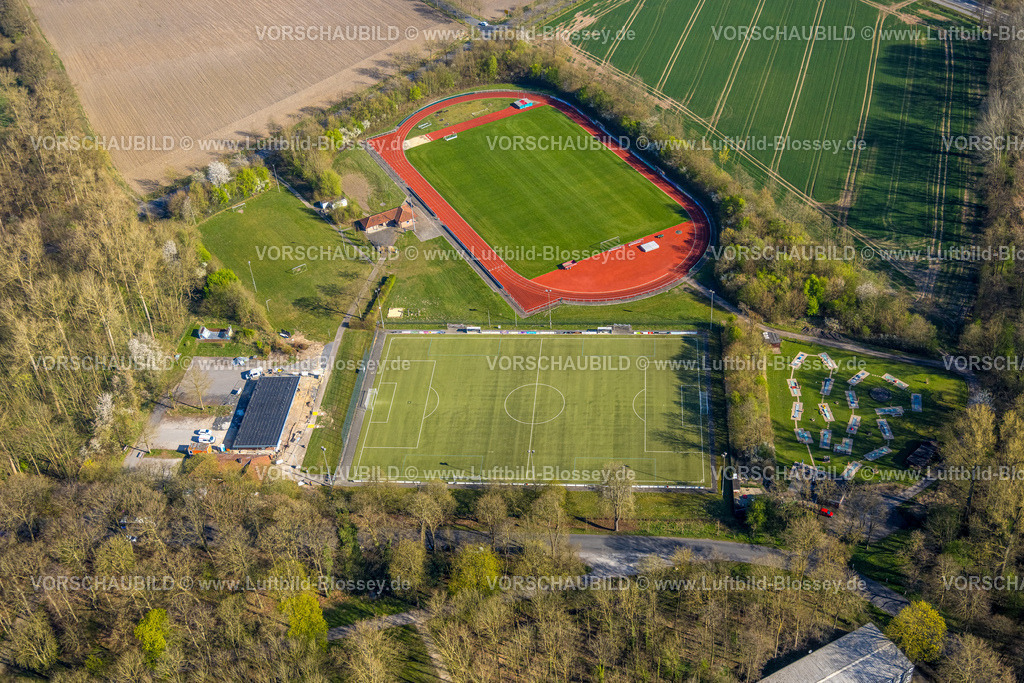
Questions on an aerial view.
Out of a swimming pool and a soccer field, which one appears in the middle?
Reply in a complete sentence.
You can see a soccer field in the middle.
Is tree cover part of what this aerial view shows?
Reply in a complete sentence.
Yes, there's tree cover in this view.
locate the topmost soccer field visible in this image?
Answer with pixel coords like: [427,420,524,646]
[404,96,696,292]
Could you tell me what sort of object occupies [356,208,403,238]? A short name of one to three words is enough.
building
